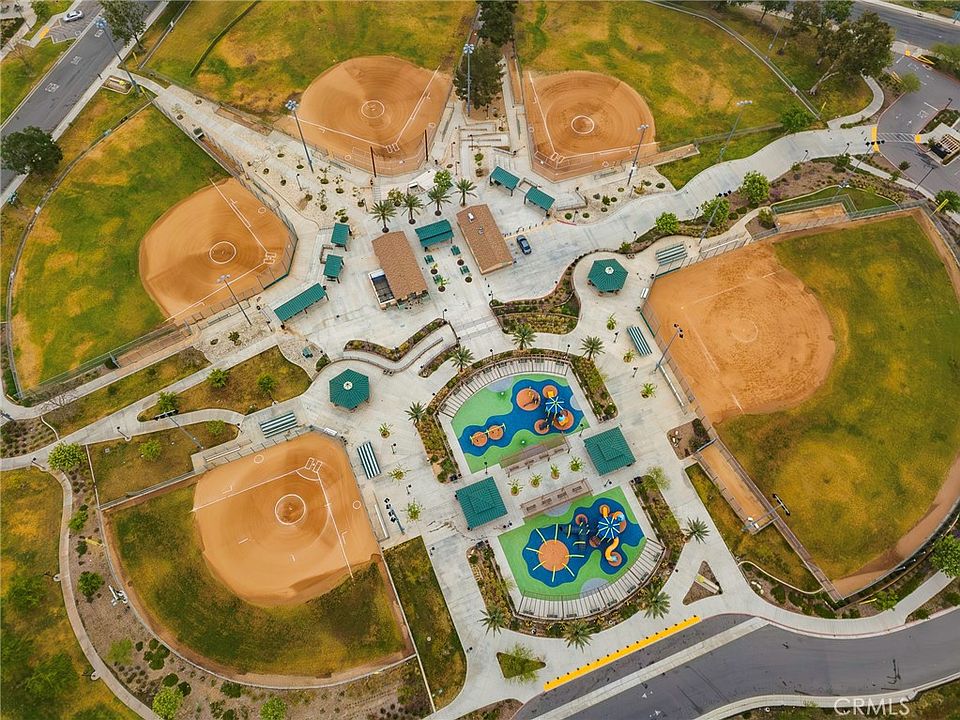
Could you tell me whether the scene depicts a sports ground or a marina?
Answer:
sports ground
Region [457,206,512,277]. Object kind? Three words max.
building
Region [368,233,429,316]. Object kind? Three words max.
building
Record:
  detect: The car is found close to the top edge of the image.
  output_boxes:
[62,10,84,24]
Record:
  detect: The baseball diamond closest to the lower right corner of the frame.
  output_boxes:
[639,207,960,598]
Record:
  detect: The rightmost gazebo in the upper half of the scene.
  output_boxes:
[586,259,628,299]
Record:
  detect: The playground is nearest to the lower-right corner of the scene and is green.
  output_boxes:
[498,487,647,600]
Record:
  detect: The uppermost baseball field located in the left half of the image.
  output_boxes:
[141,0,470,177]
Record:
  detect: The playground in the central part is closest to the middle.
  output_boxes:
[452,372,590,472]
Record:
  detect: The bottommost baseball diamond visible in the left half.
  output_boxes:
[101,432,413,685]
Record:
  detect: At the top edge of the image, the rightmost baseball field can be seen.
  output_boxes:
[517,0,817,181]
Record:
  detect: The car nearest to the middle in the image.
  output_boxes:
[516,233,532,256]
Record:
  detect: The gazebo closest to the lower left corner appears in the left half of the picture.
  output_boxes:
[329,368,370,414]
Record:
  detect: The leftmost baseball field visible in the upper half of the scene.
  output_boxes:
[10,102,295,394]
